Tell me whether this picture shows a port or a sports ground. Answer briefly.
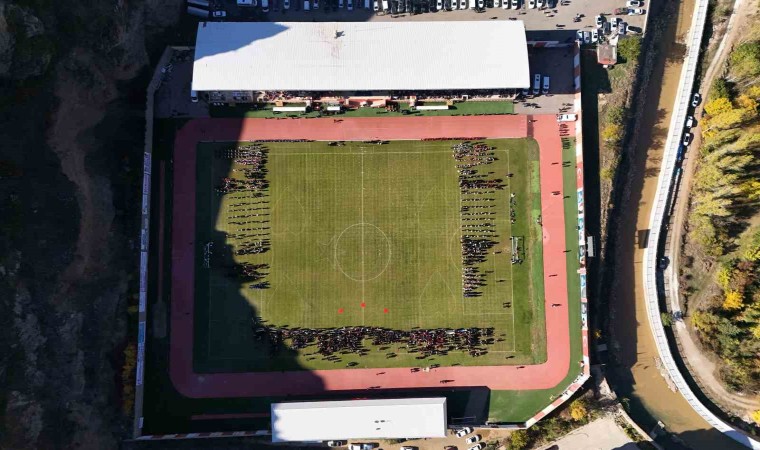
sports ground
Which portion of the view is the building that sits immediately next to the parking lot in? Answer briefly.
top right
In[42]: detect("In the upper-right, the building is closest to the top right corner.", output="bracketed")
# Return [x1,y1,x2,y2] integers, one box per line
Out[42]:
[597,42,622,65]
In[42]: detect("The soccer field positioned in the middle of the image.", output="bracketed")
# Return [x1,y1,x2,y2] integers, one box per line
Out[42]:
[193,138,546,373]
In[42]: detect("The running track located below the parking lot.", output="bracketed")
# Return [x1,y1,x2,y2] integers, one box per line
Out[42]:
[169,114,569,397]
